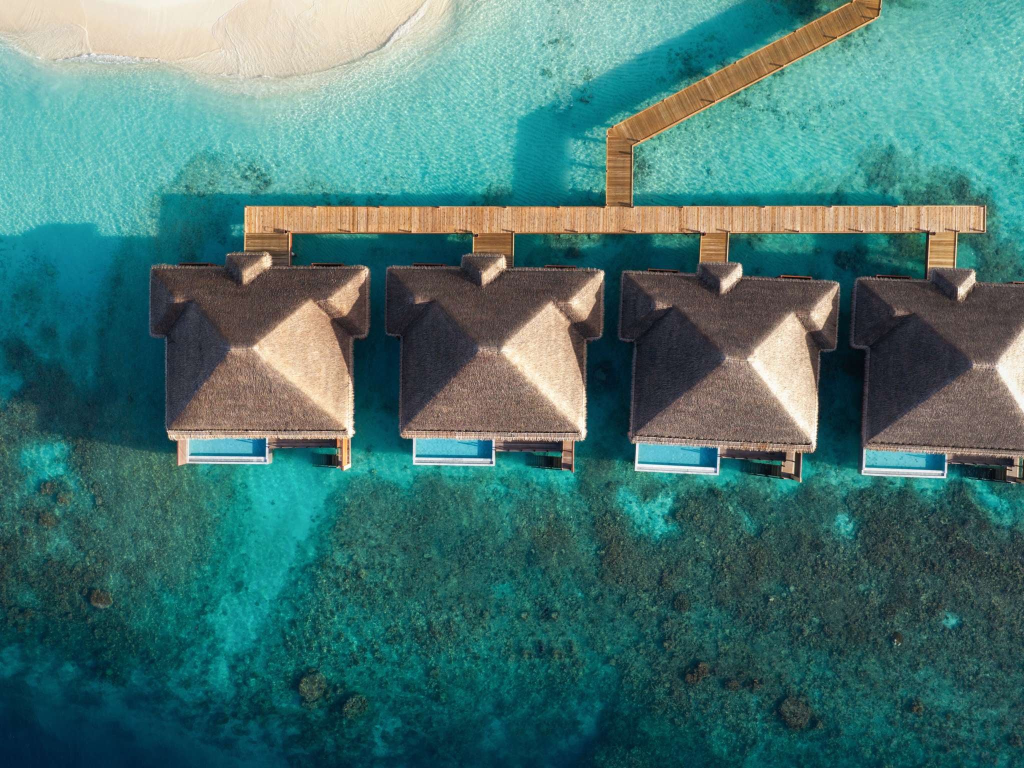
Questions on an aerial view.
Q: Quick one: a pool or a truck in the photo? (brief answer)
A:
pool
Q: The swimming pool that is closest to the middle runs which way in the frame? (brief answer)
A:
horizontally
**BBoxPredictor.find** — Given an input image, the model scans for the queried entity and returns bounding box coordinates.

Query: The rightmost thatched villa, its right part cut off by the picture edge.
[841,269,1024,491]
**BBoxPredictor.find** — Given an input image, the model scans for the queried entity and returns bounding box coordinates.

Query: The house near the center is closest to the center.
[381,253,607,474]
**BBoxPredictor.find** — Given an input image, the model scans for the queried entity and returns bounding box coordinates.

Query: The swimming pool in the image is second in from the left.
[412,437,498,466]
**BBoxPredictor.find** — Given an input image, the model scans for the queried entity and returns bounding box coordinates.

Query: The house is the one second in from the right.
[617,261,843,485]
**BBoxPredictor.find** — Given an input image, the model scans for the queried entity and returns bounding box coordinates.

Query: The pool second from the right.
[635,443,725,474]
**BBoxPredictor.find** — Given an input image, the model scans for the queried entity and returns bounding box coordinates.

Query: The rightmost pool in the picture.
[858,434,952,482]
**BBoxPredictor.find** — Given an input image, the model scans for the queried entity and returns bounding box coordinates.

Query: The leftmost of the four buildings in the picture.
[148,253,372,473]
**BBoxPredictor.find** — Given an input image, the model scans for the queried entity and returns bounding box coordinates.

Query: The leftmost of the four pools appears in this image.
[188,438,273,466]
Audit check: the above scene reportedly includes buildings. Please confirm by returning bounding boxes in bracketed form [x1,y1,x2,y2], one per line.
[841,269,1024,491]
[148,253,372,473]
[617,261,843,485]
[381,253,607,474]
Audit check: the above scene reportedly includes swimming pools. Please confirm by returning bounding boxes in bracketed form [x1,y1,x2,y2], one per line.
[188,438,273,466]
[635,443,725,474]
[412,437,498,466]
[858,434,952,482]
